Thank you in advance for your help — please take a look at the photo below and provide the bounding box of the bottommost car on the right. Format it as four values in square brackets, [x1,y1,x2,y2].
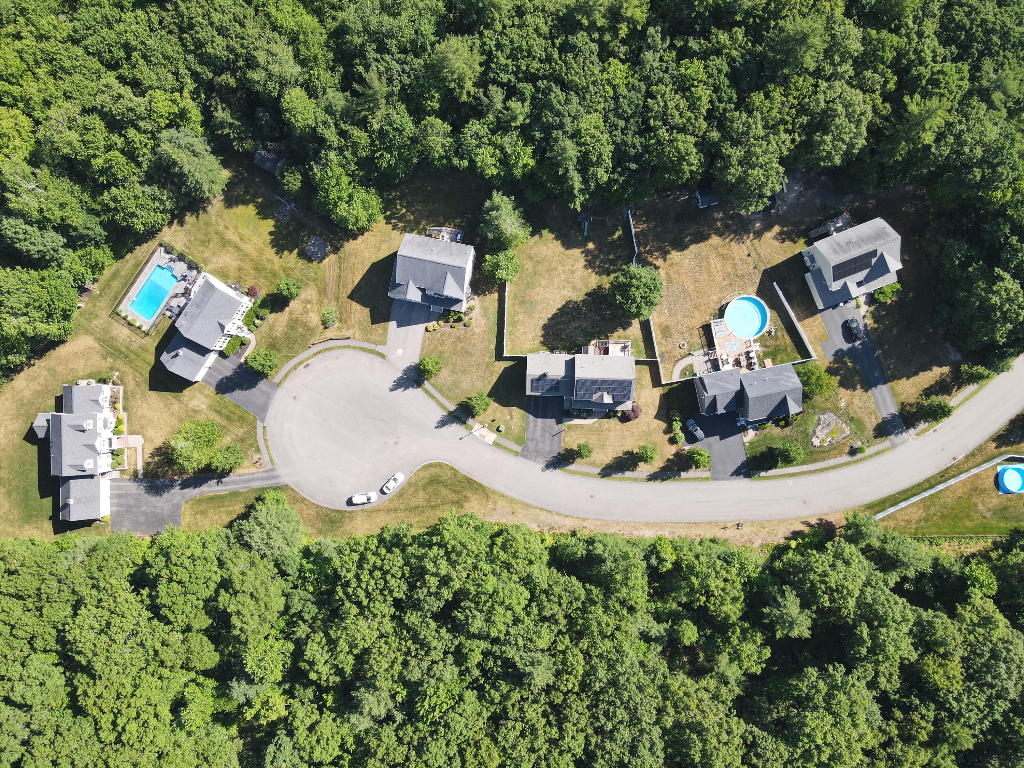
[685,417,705,443]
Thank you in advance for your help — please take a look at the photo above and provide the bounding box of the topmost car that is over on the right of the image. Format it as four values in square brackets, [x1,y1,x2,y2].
[847,317,866,341]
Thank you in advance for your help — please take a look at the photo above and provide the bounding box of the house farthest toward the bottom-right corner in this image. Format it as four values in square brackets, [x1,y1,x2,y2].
[695,364,803,426]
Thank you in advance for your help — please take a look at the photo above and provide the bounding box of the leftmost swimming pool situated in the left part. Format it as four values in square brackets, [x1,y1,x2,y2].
[128,264,178,324]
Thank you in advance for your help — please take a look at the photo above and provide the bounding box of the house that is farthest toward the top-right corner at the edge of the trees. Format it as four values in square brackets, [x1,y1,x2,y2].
[802,217,903,309]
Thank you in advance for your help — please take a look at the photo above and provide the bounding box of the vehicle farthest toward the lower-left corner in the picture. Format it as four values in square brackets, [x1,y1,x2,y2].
[352,491,378,504]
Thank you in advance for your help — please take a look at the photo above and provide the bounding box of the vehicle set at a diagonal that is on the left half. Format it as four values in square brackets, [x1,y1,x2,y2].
[383,471,405,494]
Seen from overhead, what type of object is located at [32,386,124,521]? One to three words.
house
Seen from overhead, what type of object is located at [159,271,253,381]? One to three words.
house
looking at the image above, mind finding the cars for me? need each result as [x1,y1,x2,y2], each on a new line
[383,471,405,494]
[847,317,866,341]
[685,417,705,443]
[352,491,378,504]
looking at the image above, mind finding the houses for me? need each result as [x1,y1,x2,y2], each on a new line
[388,233,472,314]
[32,386,124,521]
[802,217,903,309]
[525,353,636,412]
[695,364,803,426]
[159,271,253,381]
